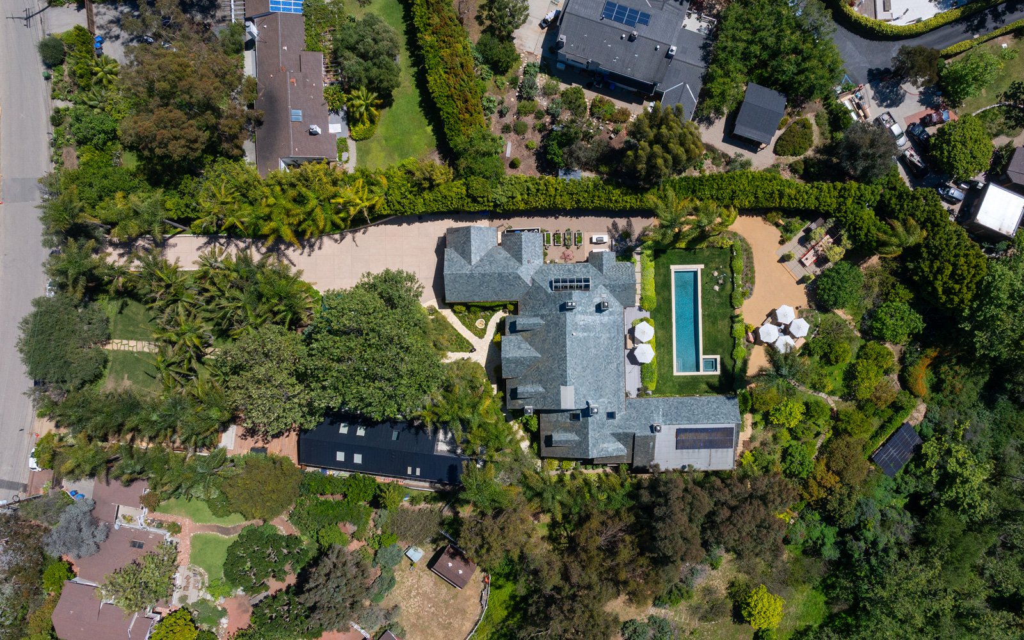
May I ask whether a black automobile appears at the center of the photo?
No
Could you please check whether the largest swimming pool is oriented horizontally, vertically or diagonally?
vertically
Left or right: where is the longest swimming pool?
right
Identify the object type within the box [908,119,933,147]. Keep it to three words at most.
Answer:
car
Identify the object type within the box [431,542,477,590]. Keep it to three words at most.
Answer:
shed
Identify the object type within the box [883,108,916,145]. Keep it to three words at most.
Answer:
truck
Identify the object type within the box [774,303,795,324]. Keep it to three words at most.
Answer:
umbrella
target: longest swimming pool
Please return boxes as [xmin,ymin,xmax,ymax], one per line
[671,265,720,375]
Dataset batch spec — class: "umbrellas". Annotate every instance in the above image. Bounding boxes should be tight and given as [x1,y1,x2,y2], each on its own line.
[757,323,779,343]
[633,321,654,341]
[633,344,655,363]
[788,318,809,337]
[773,336,794,356]
[774,303,795,324]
